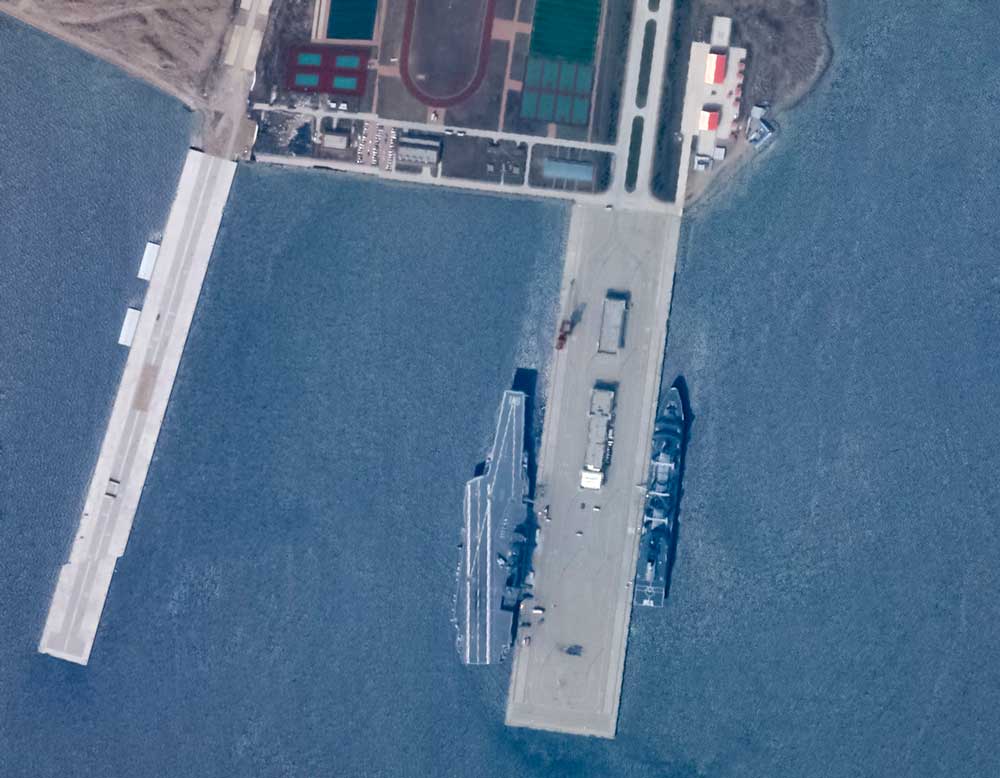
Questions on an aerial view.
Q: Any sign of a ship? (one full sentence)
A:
Yes, the photo shows a ship.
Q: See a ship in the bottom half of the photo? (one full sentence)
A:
Yes, I can see a ship in the bottom half of the photo.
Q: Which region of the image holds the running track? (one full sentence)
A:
The running track is in the top part of the image.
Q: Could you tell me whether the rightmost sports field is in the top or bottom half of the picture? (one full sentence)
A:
The rightmost sports field sits in the top half of the picture.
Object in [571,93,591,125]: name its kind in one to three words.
sports court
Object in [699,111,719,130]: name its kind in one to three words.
shed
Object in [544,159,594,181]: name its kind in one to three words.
building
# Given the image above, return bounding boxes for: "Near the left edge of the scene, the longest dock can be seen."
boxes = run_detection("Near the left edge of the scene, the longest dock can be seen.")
[40,147,237,666]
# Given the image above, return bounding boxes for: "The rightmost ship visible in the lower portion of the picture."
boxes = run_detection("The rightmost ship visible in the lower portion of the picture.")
[634,387,683,608]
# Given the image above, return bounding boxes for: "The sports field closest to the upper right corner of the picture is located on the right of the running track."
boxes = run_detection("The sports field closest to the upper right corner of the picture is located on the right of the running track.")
[529,0,603,62]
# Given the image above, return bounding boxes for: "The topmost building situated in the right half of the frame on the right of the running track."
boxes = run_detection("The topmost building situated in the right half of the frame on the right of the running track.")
[711,16,731,47]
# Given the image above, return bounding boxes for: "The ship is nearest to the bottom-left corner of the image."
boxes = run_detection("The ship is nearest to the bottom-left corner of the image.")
[451,391,529,664]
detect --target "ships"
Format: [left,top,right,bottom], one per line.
[451,391,529,664]
[634,387,683,608]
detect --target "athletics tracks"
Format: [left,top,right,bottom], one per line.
[401,0,495,107]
